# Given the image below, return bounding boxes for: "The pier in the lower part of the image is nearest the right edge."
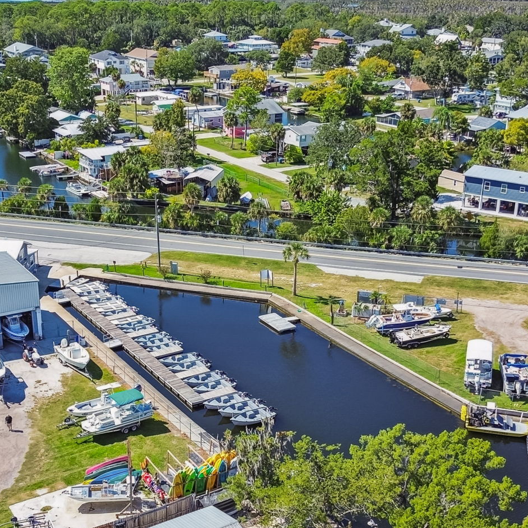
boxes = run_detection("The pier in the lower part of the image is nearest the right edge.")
[256,313,296,334]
